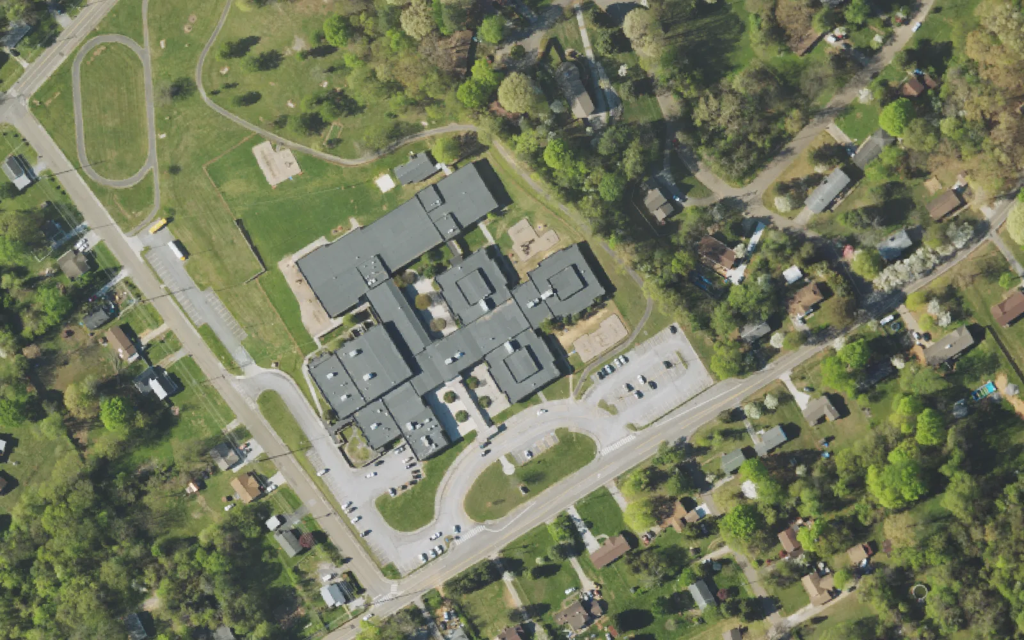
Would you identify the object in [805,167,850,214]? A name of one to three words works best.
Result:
house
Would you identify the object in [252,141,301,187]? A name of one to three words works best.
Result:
playground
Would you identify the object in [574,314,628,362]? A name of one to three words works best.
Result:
playground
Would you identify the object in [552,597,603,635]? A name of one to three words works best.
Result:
house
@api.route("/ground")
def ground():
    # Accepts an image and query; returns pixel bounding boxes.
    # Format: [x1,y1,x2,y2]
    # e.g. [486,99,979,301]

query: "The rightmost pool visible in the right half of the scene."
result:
[973,381,999,401]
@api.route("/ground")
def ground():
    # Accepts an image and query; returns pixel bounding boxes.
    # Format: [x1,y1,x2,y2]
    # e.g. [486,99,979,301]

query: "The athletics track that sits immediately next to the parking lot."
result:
[73,34,156,189]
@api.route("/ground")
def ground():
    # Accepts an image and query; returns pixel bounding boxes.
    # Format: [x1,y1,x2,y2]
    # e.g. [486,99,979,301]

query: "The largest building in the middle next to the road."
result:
[296,163,605,461]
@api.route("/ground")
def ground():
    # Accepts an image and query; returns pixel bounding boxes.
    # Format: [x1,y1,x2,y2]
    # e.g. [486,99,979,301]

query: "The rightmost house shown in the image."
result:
[985,288,1024,330]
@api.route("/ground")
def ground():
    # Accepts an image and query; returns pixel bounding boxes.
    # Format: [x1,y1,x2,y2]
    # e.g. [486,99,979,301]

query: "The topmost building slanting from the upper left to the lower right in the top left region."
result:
[0,153,30,190]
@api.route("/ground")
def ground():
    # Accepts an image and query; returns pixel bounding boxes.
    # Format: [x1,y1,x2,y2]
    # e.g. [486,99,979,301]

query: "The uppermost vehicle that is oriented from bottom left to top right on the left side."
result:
[149,219,167,234]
